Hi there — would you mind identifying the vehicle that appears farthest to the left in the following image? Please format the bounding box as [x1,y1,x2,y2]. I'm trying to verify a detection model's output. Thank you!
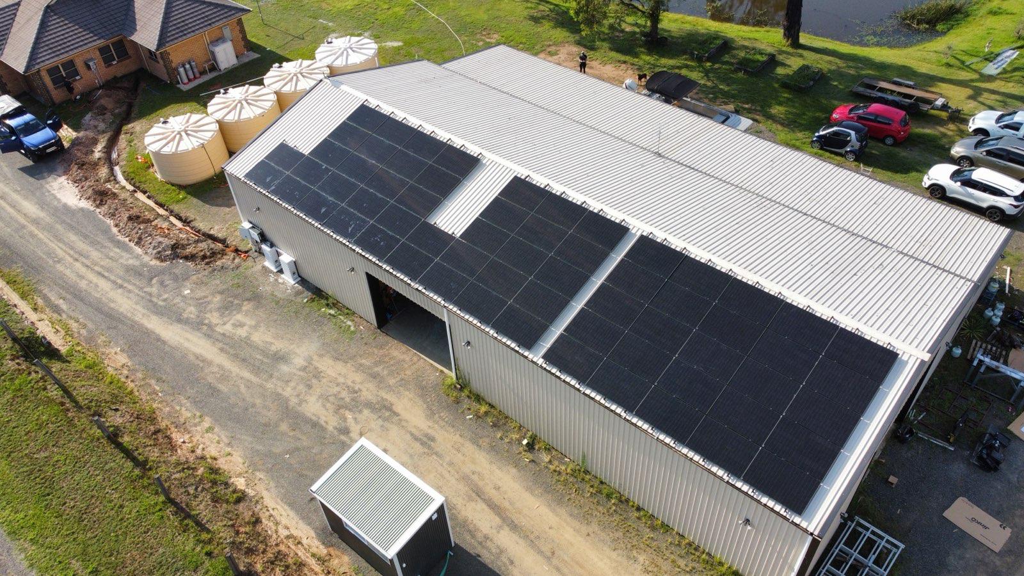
[0,90,71,162]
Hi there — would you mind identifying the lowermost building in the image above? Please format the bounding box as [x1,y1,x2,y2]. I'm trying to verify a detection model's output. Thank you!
[311,439,452,576]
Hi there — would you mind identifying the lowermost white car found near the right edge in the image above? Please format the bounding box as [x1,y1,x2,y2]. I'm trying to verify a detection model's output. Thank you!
[923,163,1024,220]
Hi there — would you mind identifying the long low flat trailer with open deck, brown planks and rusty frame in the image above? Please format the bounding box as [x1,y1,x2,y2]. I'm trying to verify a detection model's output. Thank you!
[851,71,960,116]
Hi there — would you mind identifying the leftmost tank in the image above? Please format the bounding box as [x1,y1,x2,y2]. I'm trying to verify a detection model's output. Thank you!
[143,110,233,188]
